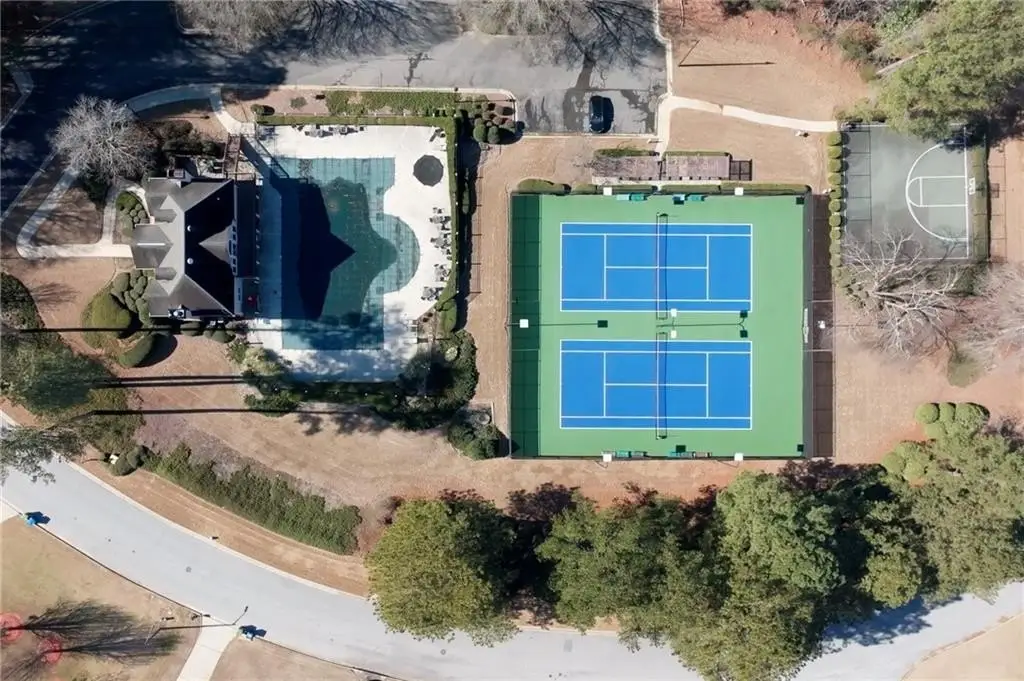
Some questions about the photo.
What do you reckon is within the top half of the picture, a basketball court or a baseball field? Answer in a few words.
basketball court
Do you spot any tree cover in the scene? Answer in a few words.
Yes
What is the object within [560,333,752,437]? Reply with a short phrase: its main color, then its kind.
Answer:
blue tennis court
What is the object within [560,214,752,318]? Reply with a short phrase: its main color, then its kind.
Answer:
blue tennis court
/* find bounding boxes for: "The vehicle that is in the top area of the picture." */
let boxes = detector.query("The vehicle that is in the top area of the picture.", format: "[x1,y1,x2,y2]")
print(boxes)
[589,95,606,132]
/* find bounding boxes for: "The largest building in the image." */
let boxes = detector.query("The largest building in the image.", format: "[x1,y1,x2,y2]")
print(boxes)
[131,164,267,320]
